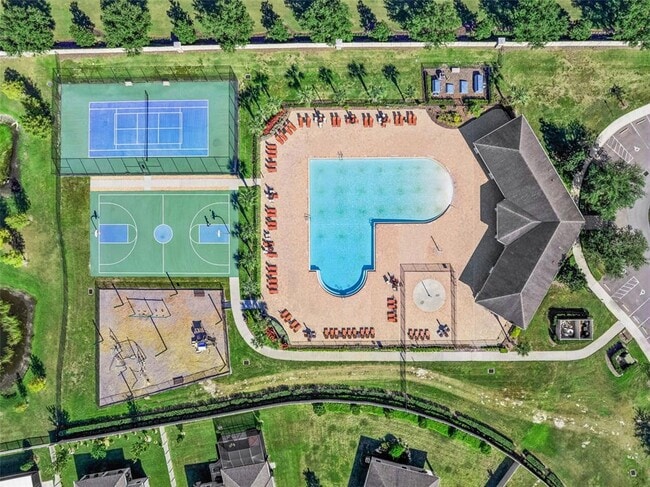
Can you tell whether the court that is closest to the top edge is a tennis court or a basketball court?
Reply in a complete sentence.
It turns out the court that is closest to the top edge is a tennis court.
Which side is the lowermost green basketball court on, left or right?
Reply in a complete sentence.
It is on the left.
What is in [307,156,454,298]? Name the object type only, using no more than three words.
swimming pool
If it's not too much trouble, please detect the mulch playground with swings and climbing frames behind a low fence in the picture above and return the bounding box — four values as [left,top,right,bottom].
[98,289,229,406]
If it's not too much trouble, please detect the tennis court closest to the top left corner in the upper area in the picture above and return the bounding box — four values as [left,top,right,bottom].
[62,83,236,174]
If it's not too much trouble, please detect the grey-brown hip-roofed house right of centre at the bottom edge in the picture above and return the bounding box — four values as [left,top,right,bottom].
[364,455,441,487]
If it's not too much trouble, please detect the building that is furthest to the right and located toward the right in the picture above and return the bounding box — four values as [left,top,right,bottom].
[470,114,608,330]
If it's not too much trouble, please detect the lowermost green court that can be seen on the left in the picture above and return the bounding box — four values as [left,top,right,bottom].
[90,190,238,276]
